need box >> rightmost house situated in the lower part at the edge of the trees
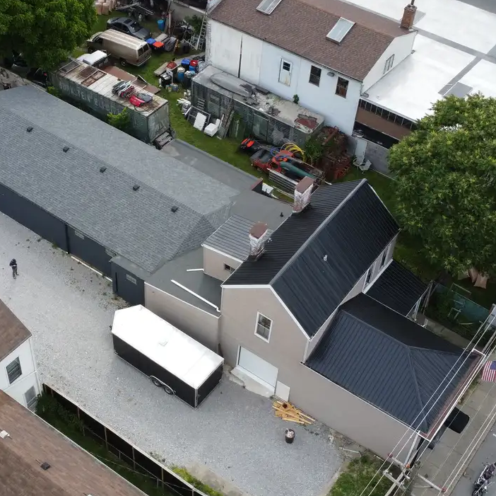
[148,173,492,472]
